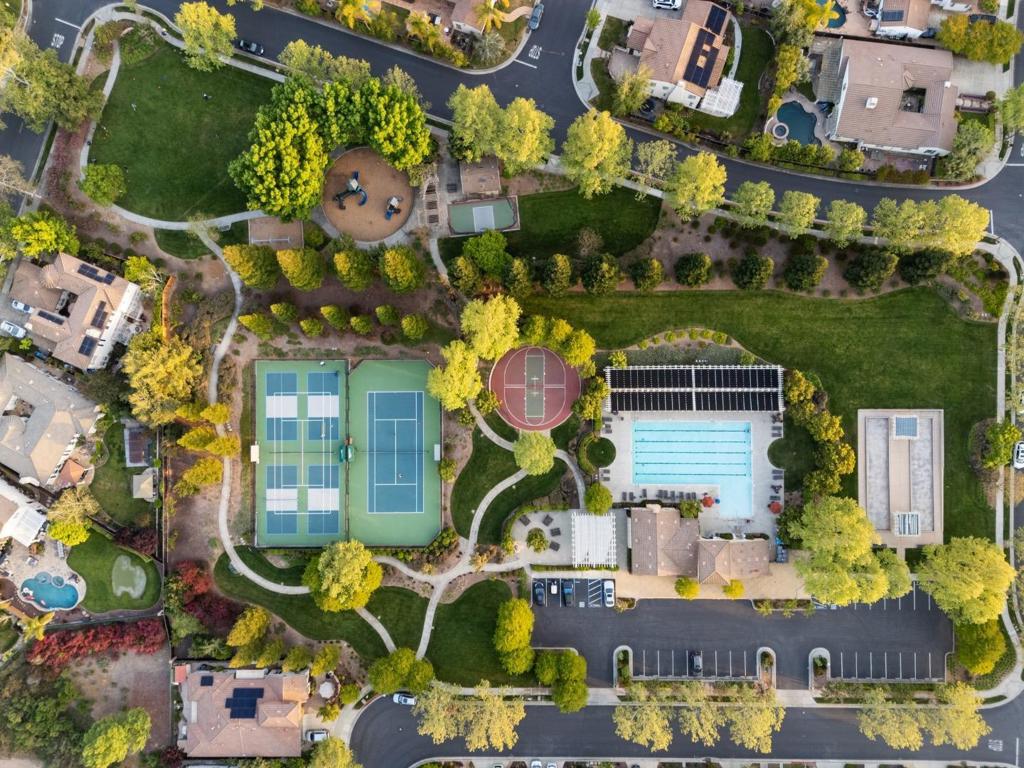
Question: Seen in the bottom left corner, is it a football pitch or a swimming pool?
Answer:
swimming pool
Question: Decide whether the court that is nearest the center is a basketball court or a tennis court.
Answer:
basketball court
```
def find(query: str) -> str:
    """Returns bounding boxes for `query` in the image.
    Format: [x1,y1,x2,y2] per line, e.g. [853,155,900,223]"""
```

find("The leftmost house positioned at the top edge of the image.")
[452,0,498,38]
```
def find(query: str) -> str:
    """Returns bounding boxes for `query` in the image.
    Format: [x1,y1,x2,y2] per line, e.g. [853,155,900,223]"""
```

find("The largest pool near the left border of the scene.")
[17,571,82,612]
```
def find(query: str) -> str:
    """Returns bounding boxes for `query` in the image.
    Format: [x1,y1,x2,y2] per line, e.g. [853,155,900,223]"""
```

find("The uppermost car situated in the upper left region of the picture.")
[239,40,264,56]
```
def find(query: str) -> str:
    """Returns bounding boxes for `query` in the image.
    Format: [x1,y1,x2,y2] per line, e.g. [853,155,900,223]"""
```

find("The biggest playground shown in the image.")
[321,147,415,240]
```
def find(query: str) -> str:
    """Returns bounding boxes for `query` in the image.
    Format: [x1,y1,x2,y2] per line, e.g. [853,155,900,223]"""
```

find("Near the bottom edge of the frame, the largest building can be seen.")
[187,667,312,757]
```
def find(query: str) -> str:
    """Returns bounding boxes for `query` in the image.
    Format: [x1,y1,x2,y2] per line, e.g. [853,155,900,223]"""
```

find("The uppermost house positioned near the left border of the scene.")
[10,255,142,368]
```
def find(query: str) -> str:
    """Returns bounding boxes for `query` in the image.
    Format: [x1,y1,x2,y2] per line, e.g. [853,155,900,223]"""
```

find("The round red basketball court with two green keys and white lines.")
[490,346,581,429]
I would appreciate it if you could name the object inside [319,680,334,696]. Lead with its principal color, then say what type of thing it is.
white umbrella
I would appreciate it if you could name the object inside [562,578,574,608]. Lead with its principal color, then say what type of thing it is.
blue vehicle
